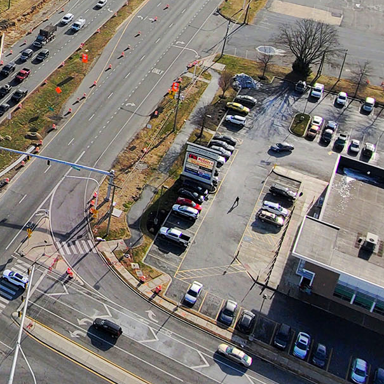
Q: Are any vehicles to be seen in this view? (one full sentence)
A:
Yes, a vehicle is visible in the scene.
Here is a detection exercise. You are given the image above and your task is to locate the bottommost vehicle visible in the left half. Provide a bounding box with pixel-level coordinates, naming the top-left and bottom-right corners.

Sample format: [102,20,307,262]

[91,317,125,340]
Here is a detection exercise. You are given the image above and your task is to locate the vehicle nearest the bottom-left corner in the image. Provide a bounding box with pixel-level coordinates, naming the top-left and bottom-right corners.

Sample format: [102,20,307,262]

[1,271,30,290]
